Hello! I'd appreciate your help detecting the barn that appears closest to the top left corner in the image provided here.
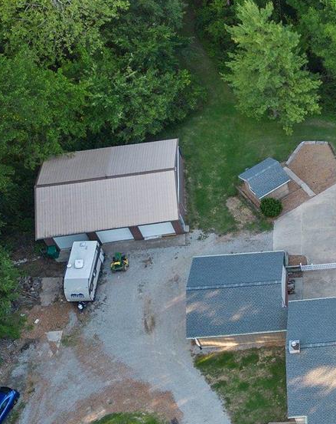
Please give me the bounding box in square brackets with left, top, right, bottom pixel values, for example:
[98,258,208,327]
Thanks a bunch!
[33,139,188,252]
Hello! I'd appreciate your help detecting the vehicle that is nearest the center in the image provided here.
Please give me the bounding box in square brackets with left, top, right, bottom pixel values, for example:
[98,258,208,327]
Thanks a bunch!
[109,248,127,269]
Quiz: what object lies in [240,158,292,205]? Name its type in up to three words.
shed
